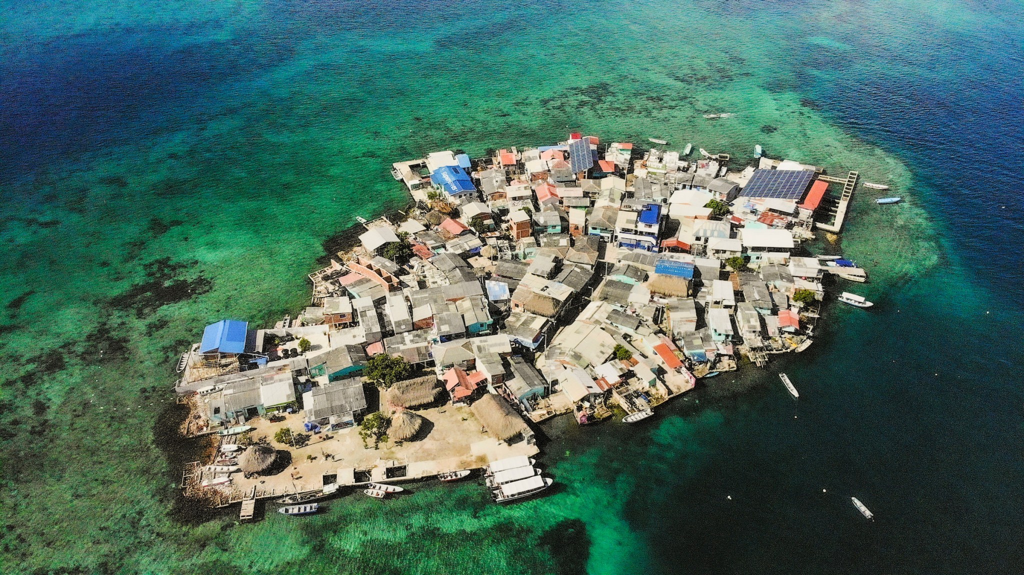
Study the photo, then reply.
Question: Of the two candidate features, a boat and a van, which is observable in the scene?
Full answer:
I can see a boat in this picture.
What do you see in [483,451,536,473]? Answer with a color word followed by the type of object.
white boat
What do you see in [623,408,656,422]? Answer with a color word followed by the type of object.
white boat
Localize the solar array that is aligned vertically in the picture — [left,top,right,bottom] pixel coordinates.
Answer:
[569,137,593,186]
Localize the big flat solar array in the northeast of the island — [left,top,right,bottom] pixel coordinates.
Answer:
[739,169,815,208]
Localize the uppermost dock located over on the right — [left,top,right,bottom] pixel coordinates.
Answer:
[815,170,858,233]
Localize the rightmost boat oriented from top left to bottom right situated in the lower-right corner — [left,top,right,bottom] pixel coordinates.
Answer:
[852,495,875,519]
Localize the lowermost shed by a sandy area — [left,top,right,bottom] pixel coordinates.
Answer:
[235,444,278,478]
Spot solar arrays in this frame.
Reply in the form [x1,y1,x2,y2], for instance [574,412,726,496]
[739,169,815,208]
[569,137,593,186]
